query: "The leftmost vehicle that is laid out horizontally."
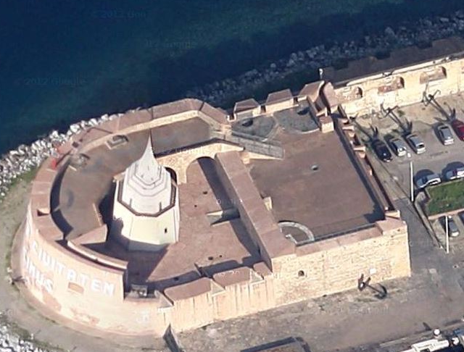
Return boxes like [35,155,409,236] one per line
[414,171,441,186]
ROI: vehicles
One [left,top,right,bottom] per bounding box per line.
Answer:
[414,171,441,186]
[441,217,460,238]
[442,164,464,180]
[373,140,391,160]
[390,136,408,158]
[407,133,427,154]
[451,120,464,141]
[435,125,457,146]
